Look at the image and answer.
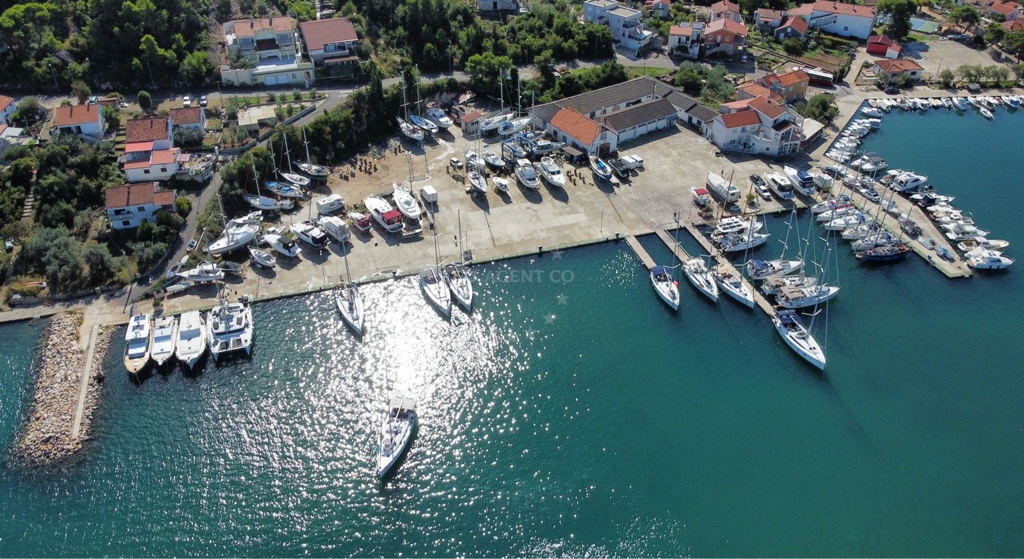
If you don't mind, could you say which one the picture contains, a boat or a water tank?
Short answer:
boat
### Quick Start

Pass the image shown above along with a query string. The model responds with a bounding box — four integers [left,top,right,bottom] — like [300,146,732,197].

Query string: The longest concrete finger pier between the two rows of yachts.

[685,225,779,319]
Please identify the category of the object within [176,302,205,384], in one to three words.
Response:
boat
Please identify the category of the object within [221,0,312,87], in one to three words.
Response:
house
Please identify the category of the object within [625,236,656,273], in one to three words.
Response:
pier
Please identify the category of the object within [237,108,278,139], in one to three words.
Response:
shed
